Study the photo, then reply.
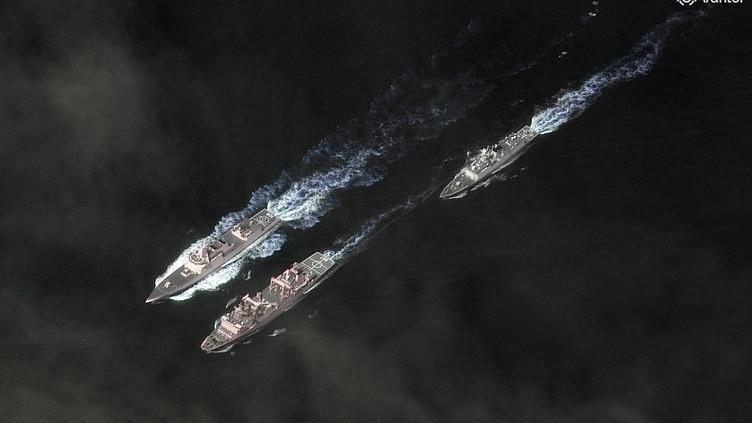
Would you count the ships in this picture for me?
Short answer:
3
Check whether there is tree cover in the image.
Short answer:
No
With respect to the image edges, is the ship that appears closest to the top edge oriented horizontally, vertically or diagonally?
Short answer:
diagonally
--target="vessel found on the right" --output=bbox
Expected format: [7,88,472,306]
[440,126,538,198]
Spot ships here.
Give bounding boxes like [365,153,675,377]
[146,209,281,302]
[200,252,336,351]
[440,126,538,198]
